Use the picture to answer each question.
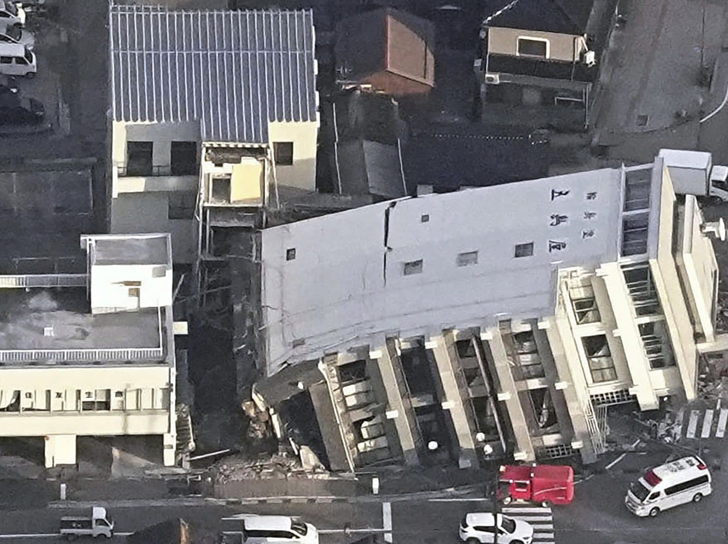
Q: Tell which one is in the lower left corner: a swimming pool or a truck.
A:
truck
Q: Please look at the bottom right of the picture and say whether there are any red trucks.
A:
Yes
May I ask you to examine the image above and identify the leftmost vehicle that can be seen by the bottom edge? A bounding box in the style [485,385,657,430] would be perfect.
[57,503,116,540]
